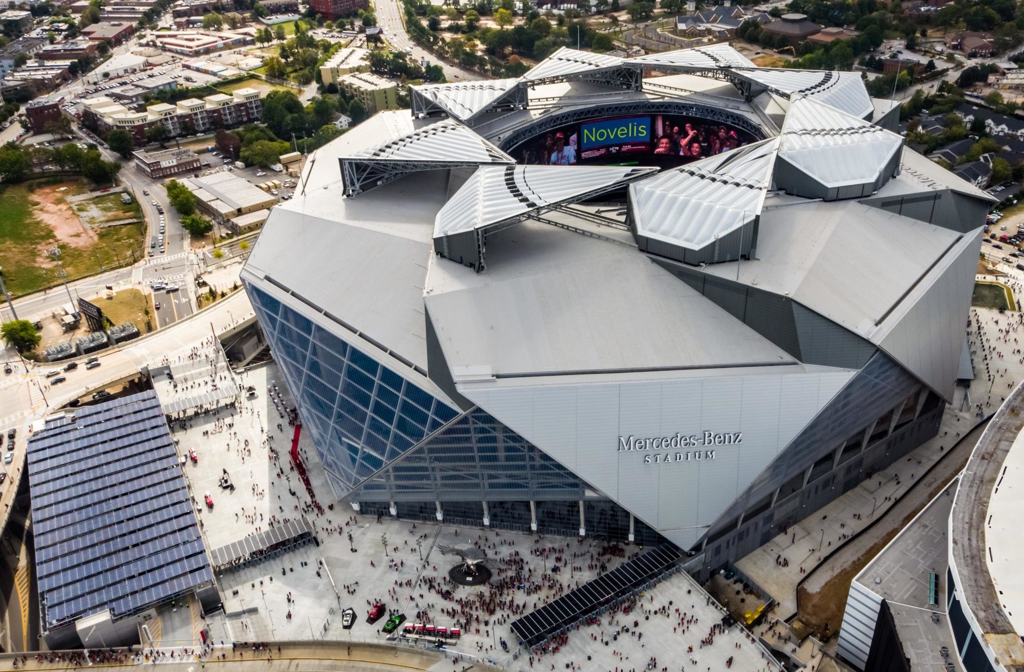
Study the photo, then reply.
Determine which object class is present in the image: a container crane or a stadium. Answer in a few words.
stadium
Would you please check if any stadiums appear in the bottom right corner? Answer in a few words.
Yes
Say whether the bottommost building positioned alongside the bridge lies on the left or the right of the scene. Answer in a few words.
left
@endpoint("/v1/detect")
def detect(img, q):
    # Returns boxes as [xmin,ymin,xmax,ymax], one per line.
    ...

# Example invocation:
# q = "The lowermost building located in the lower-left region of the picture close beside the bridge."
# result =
[29,390,223,659]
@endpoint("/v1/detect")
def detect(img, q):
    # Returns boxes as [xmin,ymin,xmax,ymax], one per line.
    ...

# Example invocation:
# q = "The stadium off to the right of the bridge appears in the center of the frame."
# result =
[240,34,996,593]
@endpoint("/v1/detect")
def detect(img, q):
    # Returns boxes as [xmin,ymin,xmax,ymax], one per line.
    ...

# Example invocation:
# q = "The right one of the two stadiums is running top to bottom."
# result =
[944,382,1024,672]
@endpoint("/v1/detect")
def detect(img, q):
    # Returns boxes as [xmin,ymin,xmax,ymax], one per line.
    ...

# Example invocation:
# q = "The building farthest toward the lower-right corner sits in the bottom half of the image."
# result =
[838,466,967,672]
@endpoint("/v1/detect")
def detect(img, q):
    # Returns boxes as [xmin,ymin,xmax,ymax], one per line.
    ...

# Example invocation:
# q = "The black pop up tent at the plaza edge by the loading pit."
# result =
[714,604,745,635]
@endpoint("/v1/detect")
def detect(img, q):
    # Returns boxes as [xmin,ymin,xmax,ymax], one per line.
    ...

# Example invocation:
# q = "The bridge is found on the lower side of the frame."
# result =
[0,292,255,523]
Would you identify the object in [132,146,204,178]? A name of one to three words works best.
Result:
building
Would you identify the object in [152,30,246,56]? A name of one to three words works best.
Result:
building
